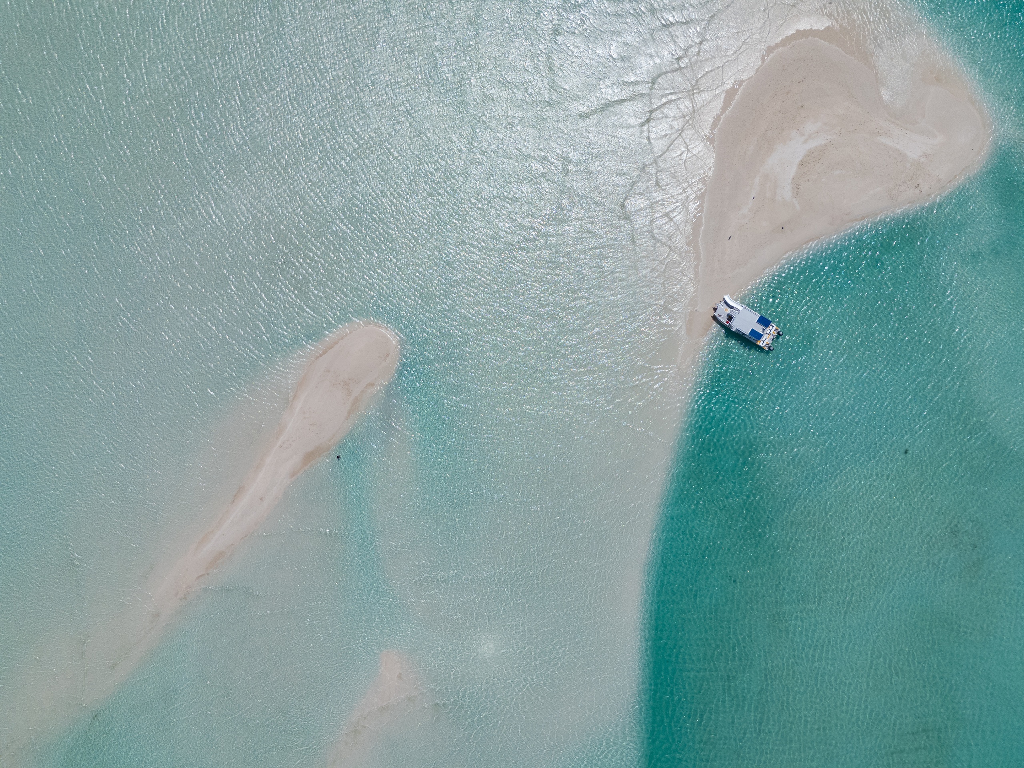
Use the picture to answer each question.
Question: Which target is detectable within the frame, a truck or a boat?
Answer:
boat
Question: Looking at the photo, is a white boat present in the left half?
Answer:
No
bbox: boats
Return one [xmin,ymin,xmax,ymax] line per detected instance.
[713,293,784,351]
